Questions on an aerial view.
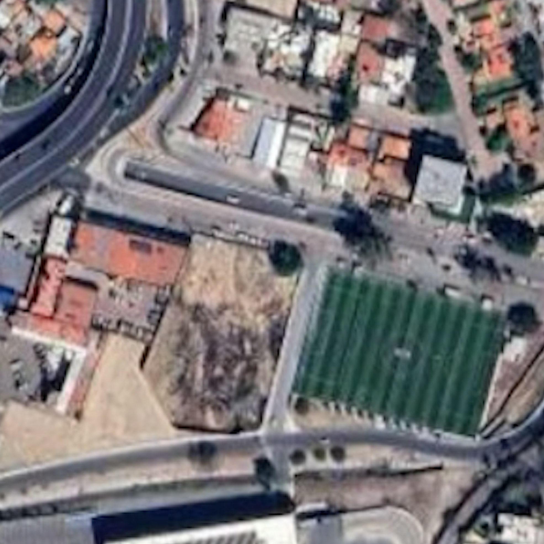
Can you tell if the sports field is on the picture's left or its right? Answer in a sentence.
The sports field sits on the right side.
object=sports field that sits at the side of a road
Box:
[293,271,504,435]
